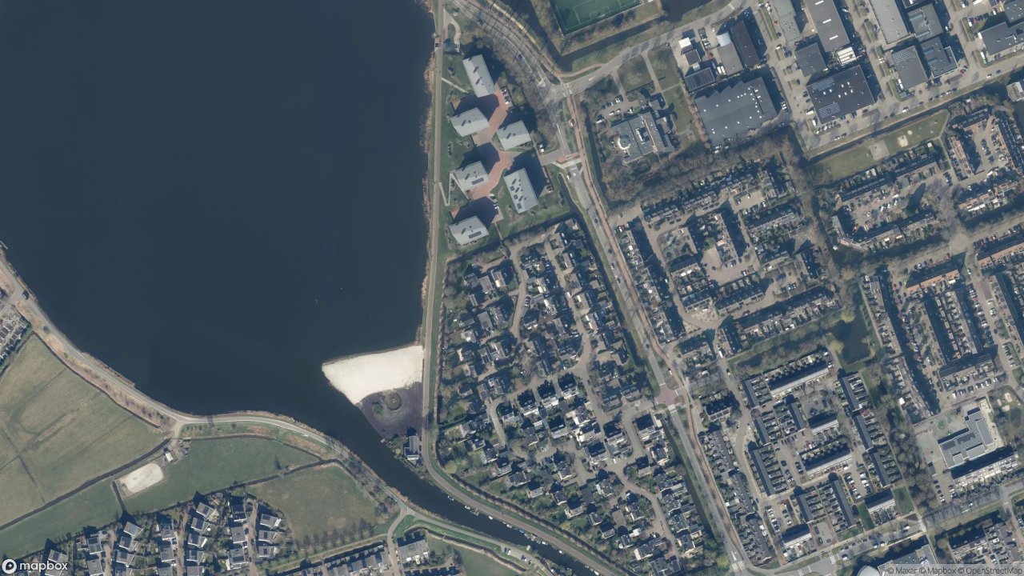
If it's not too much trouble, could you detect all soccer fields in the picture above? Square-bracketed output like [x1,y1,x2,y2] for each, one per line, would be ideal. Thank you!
[550,0,643,36]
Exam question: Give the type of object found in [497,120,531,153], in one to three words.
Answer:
building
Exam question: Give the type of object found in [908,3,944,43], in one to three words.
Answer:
building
